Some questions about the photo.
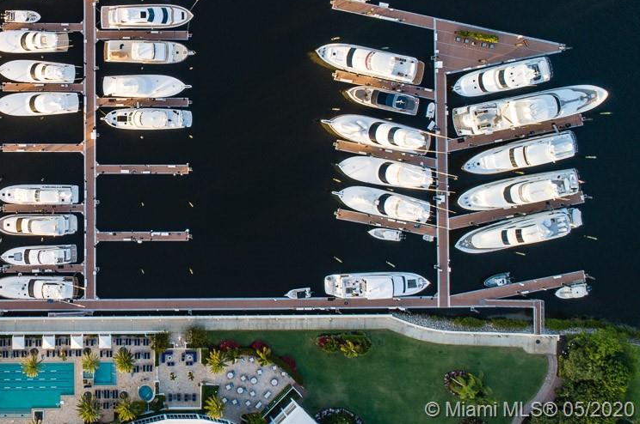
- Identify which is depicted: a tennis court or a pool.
pool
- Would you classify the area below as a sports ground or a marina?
marina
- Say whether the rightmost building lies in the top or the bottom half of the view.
bottom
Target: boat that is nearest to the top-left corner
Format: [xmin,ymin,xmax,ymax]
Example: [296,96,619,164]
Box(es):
[2,11,42,24]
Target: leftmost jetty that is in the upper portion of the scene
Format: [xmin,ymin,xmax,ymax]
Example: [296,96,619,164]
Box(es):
[0,0,193,298]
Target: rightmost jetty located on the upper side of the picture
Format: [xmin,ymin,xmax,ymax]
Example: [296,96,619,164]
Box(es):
[331,0,586,298]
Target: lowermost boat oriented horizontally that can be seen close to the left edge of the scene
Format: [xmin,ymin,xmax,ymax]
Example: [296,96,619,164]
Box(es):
[0,274,83,299]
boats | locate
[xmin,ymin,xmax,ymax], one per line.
[454,58,550,94]
[460,170,584,210]
[465,132,578,174]
[2,11,42,24]
[334,188,455,231]
[457,208,583,253]
[0,244,77,266]
[552,286,590,299]
[0,59,82,85]
[0,274,83,299]
[323,271,432,298]
[482,278,514,292]
[103,74,191,99]
[367,228,403,240]
[101,107,192,131]
[323,116,457,159]
[0,29,74,54]
[317,43,420,83]
[0,91,79,116]
[0,184,78,205]
[101,3,193,30]
[340,157,455,194]
[104,40,195,64]
[285,288,312,298]
[347,87,418,115]
[423,103,433,121]
[0,211,78,236]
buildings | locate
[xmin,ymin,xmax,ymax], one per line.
[263,385,319,424]
[116,408,242,424]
